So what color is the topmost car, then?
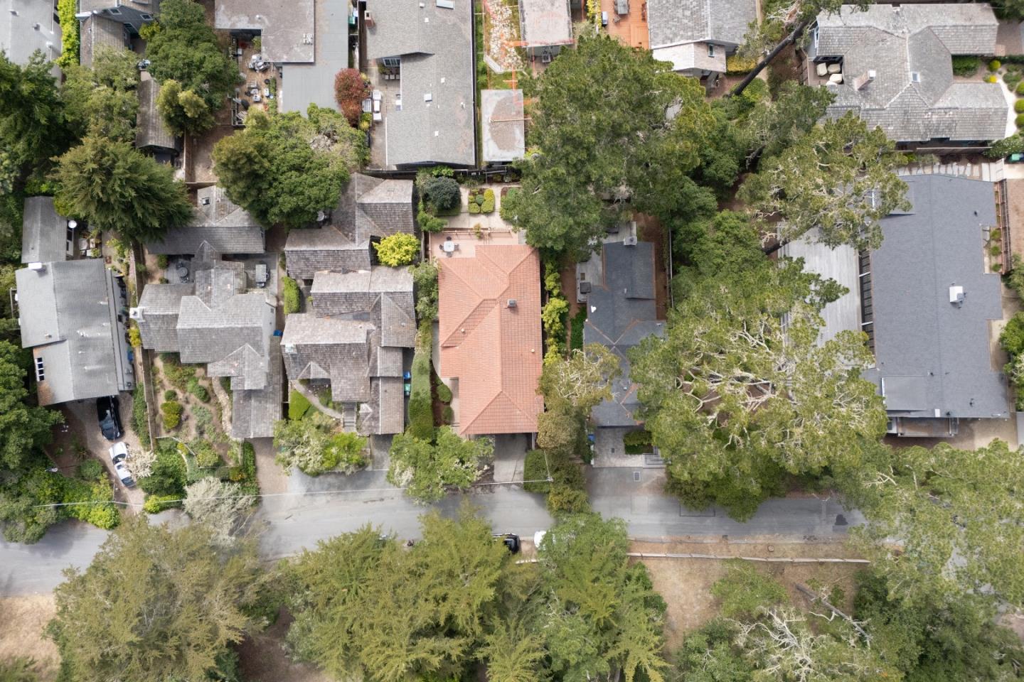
black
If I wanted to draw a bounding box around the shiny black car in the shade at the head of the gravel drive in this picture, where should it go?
[94,393,130,441]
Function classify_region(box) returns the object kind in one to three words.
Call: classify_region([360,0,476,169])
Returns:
house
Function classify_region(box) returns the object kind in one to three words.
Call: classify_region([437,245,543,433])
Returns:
house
